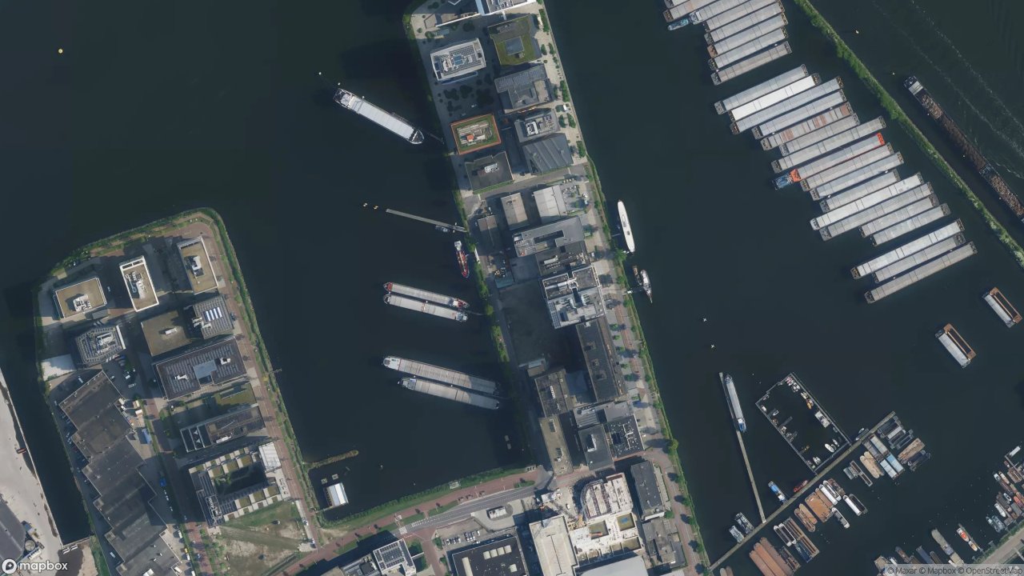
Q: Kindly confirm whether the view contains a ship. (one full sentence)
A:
Yes, there is a ship in the image.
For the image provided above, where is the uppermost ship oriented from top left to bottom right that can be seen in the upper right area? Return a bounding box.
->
[906,77,991,172]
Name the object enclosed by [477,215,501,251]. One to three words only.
shed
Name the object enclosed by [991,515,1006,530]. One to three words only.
boat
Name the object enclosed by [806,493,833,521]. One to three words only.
vessel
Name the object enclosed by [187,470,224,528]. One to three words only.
building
